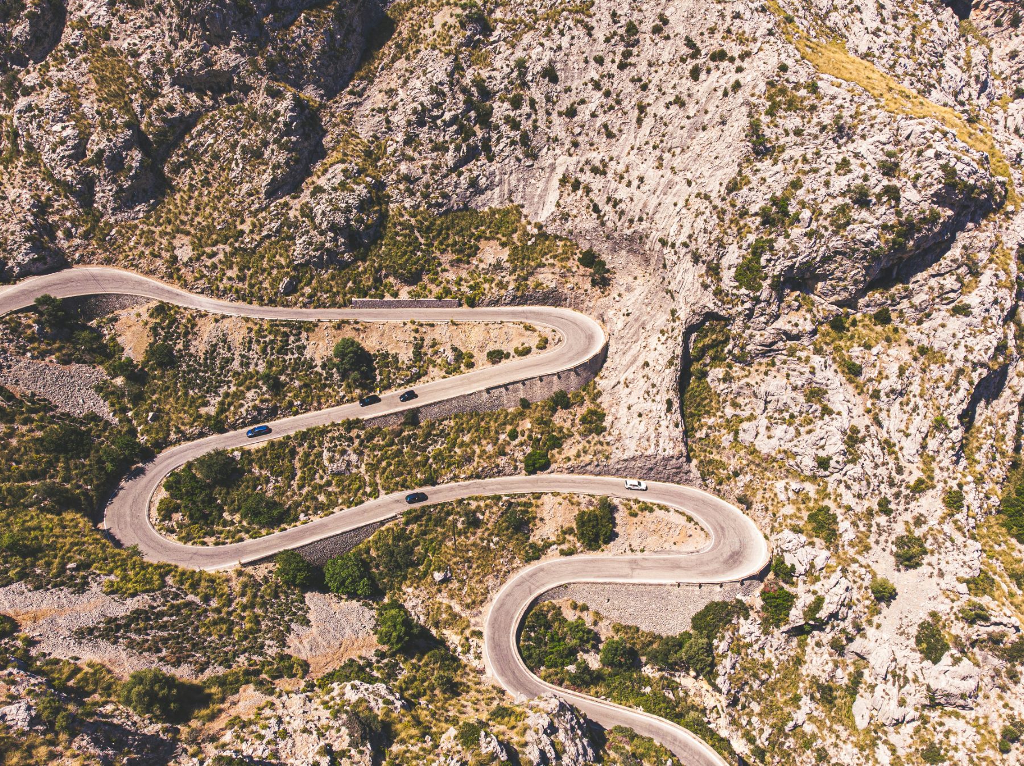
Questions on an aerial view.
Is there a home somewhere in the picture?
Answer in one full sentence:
No, this view has no home in it.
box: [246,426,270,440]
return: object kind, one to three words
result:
car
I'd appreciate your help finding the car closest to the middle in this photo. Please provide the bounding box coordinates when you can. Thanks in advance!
[398,390,419,404]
